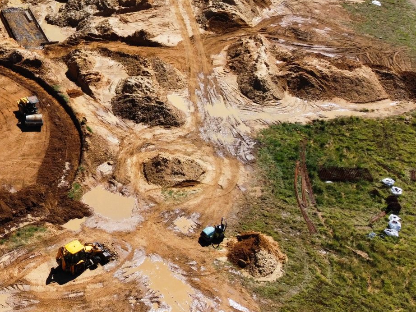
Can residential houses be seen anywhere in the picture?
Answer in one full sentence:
No, there is no residential house in the image.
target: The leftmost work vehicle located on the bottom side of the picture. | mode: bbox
[55,235,129,280]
